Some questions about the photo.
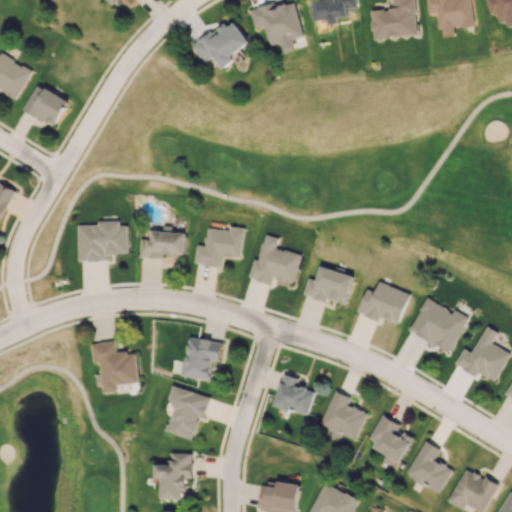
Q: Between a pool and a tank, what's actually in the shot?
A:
pool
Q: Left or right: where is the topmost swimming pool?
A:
left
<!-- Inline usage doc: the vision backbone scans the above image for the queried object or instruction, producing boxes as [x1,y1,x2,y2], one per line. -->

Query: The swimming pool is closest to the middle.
[134,196,187,232]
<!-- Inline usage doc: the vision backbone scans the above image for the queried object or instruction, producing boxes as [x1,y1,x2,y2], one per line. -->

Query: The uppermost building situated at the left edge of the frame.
[0,49,32,99]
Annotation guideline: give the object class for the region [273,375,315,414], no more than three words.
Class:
house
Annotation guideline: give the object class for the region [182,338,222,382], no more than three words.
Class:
house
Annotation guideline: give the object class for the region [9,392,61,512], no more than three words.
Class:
pond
